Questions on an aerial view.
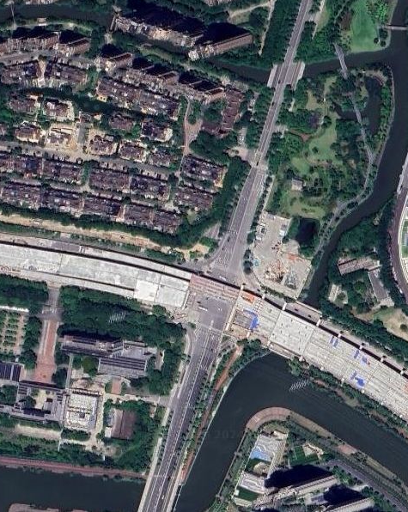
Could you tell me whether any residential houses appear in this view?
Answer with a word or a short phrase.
Yes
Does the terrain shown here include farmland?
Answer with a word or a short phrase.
No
